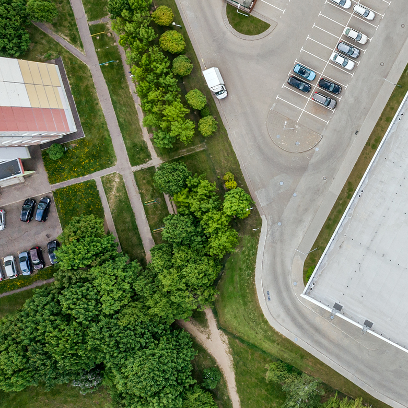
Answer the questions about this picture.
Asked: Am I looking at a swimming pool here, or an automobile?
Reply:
automobile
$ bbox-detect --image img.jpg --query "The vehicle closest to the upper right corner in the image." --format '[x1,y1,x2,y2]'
[351,2,377,21]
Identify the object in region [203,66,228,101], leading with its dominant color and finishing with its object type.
white truck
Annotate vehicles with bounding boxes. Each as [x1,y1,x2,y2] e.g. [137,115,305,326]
[0,209,9,232]
[35,197,53,223]
[329,51,357,71]
[49,240,64,265]
[311,90,339,109]
[17,250,36,277]
[286,75,314,94]
[4,254,22,280]
[291,63,318,82]
[334,40,363,60]
[30,246,47,271]
[203,66,228,101]
[0,260,5,281]
[21,198,38,223]
[317,77,344,95]
[342,26,370,45]
[330,0,354,10]
[351,2,377,21]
